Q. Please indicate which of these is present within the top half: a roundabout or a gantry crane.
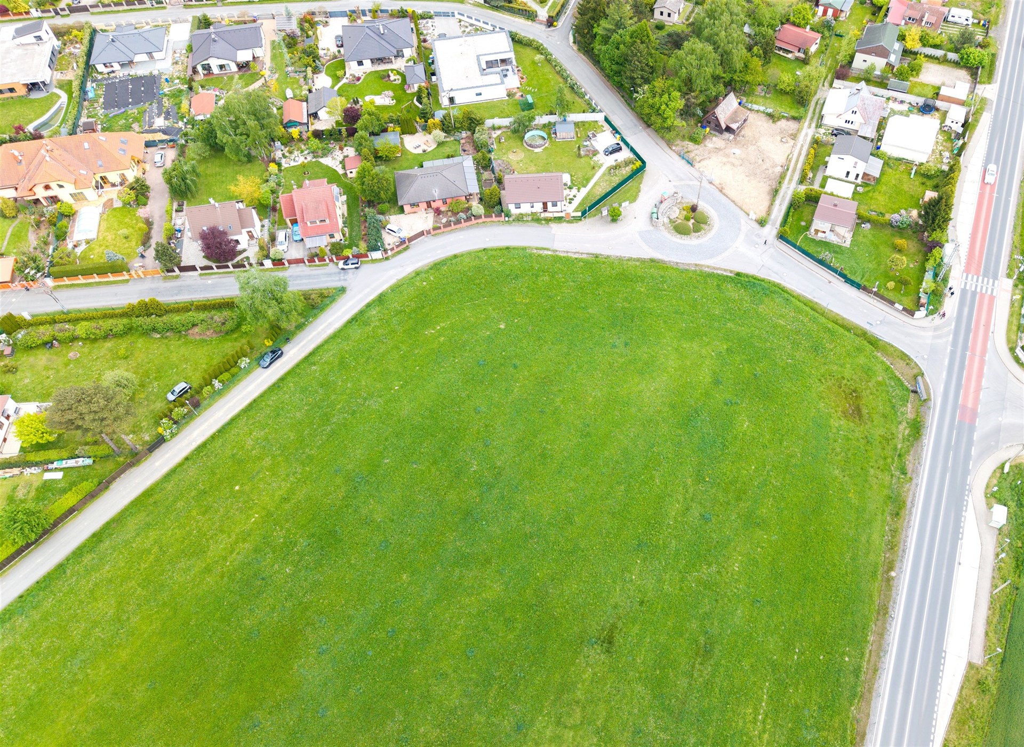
roundabout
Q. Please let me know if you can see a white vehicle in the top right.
Yes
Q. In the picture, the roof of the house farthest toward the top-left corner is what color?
white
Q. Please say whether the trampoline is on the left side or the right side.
right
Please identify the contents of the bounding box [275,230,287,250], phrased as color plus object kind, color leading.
white vehicle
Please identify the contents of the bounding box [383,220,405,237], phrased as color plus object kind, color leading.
white car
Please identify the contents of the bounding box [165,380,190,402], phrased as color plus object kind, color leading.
white car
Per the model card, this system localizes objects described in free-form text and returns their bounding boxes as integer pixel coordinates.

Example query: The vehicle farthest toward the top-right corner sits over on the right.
[945,8,977,29]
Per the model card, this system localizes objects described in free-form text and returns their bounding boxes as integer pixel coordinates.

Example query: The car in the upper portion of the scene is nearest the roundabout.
[602,140,625,156]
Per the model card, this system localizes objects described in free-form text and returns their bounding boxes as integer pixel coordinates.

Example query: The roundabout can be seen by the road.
[635,181,747,267]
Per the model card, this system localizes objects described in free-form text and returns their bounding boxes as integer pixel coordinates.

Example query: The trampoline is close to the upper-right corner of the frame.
[918,97,940,117]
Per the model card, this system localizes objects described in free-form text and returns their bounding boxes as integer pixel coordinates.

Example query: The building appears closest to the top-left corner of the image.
[0,13,73,97]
